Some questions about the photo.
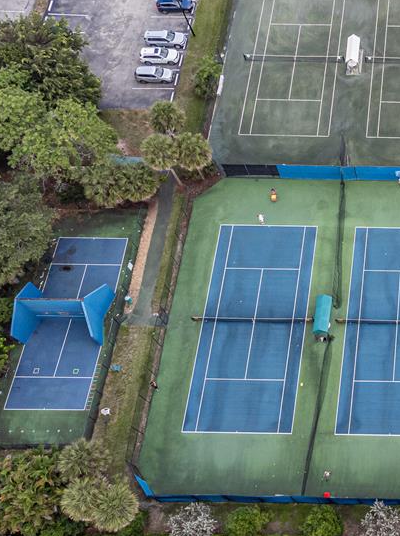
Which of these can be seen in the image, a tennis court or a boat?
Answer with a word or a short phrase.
tennis court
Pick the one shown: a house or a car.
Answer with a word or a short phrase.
car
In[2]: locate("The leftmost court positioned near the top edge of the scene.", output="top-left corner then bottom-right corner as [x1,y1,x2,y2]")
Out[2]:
[239,0,345,136]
